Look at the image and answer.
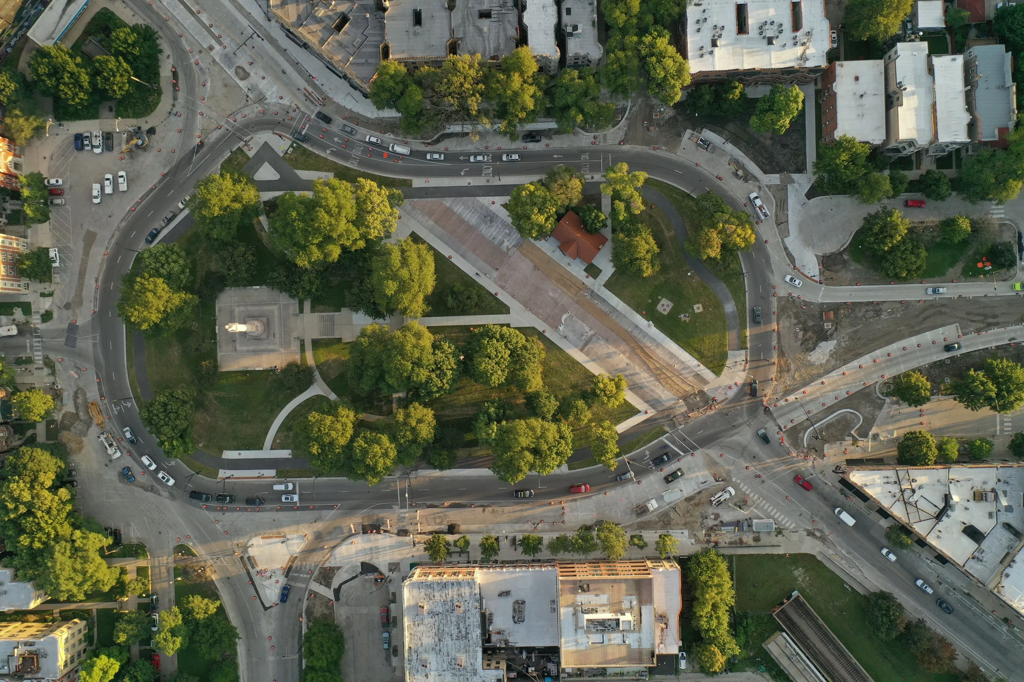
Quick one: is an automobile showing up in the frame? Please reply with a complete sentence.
Yes, the photo shows an automobile.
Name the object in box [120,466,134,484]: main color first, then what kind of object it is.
blue car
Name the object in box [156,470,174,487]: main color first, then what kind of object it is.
white car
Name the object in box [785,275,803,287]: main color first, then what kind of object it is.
white vehicle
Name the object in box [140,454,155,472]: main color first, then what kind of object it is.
white car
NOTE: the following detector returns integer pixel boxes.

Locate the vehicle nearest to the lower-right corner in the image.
[937,599,955,615]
